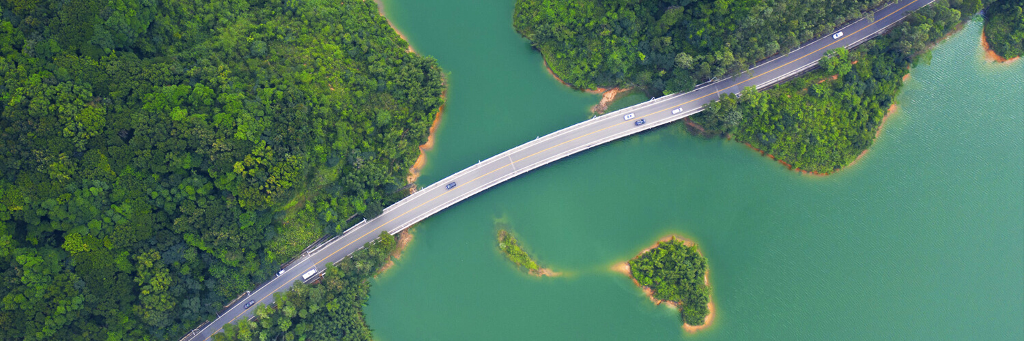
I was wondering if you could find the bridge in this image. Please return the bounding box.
[303,80,722,279]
